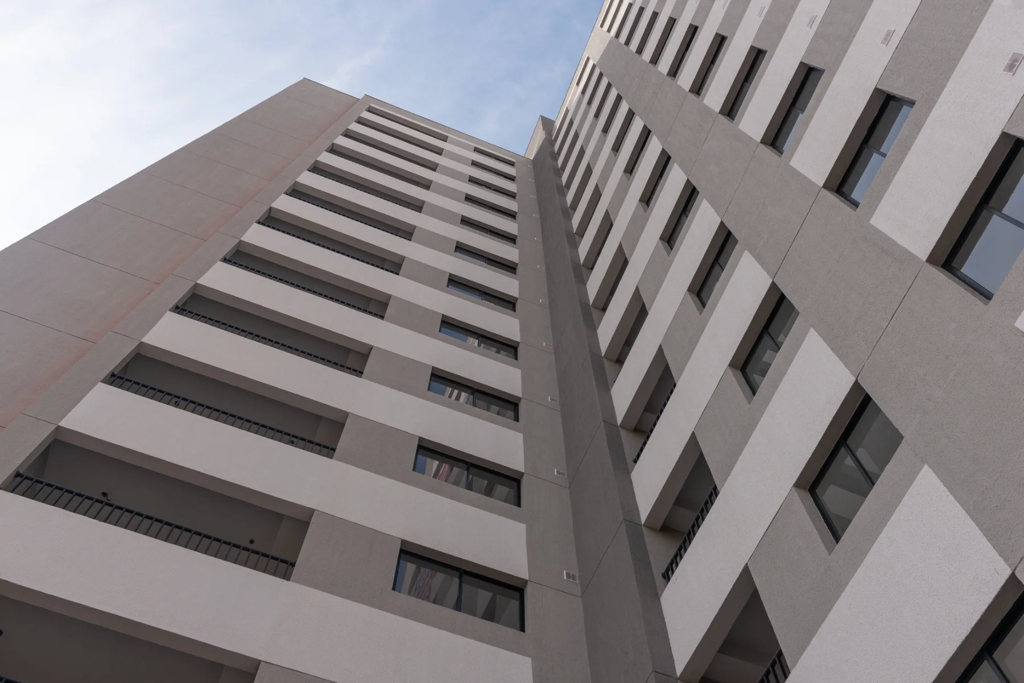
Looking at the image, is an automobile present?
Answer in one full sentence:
No, no automobile can be seen from above.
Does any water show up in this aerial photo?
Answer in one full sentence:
No, there is no water in the image.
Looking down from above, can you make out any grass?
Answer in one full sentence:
No, there is no grass in the image.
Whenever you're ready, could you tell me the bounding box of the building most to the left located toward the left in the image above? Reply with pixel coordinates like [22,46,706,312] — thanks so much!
[0,77,591,683]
